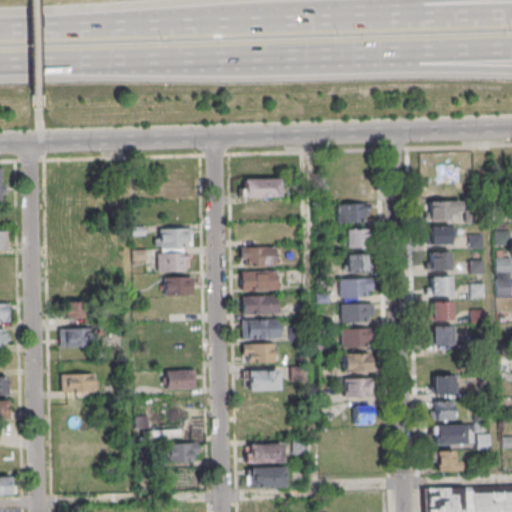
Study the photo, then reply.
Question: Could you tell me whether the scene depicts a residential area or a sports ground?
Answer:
residential area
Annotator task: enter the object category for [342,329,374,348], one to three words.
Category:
house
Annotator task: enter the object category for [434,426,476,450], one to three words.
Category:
house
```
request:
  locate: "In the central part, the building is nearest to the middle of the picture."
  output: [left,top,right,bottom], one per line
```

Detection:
[242,247,280,268]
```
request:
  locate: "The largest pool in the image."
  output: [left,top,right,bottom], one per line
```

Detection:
[67,416,82,430]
